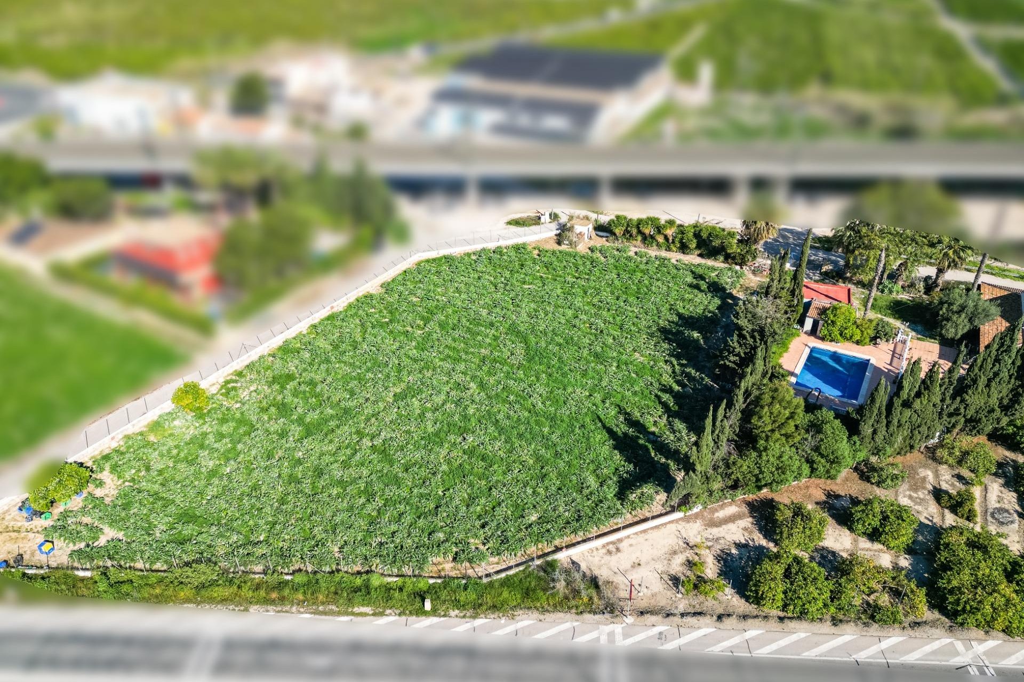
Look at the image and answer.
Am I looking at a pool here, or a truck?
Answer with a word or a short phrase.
pool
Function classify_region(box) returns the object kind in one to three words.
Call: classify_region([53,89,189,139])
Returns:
house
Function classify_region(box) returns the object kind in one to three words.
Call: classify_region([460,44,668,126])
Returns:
building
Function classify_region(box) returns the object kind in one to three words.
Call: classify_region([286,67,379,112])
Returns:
house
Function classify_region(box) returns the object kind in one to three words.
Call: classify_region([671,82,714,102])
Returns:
building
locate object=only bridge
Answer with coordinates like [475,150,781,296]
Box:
[0,140,1024,199]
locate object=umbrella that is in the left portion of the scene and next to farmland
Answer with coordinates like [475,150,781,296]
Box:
[36,542,58,568]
